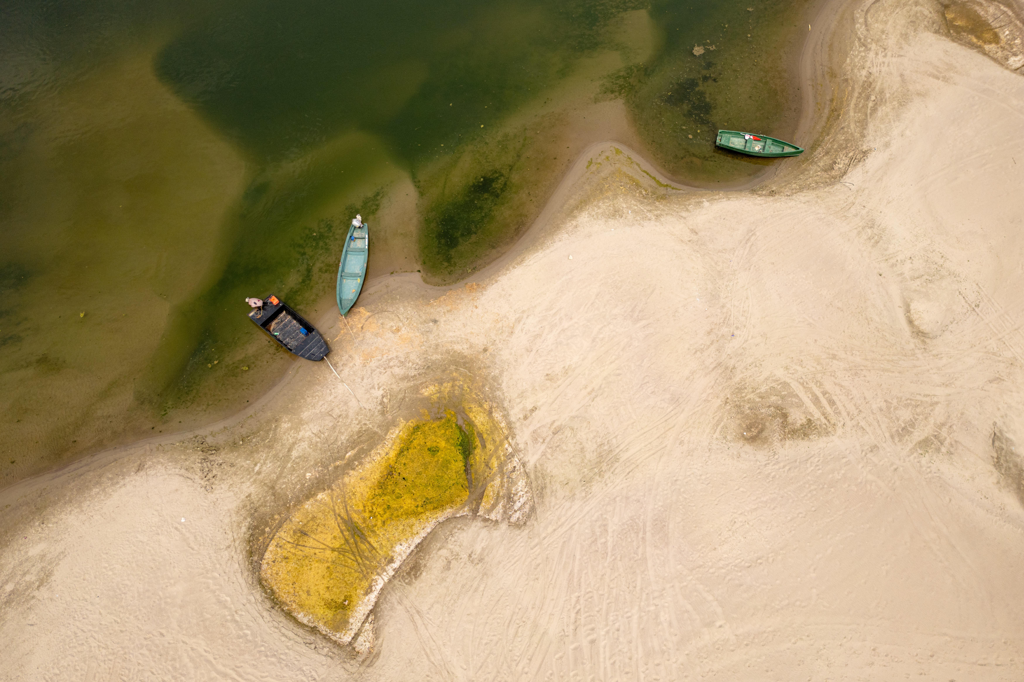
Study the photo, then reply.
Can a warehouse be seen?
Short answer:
No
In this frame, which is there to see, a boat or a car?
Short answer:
boat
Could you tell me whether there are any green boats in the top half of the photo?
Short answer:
Yes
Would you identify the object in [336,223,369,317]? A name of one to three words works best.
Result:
boat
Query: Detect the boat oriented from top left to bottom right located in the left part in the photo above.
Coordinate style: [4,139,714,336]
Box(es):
[247,294,332,361]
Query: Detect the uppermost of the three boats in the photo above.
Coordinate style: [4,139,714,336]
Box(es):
[713,129,804,155]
